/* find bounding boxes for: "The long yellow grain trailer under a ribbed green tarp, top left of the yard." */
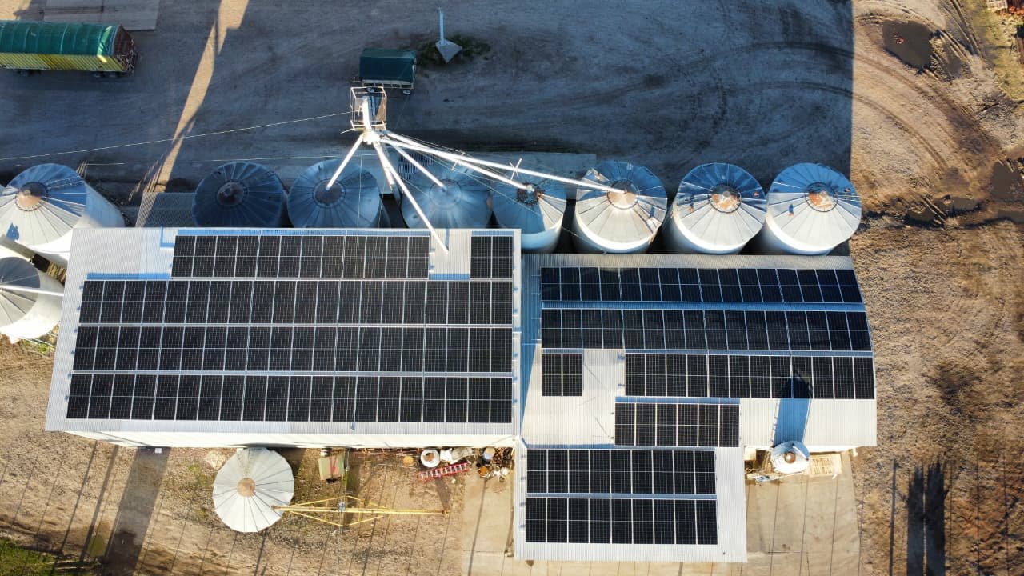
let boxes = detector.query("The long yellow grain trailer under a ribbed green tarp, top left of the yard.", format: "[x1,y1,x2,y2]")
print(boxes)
[0,19,140,80]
